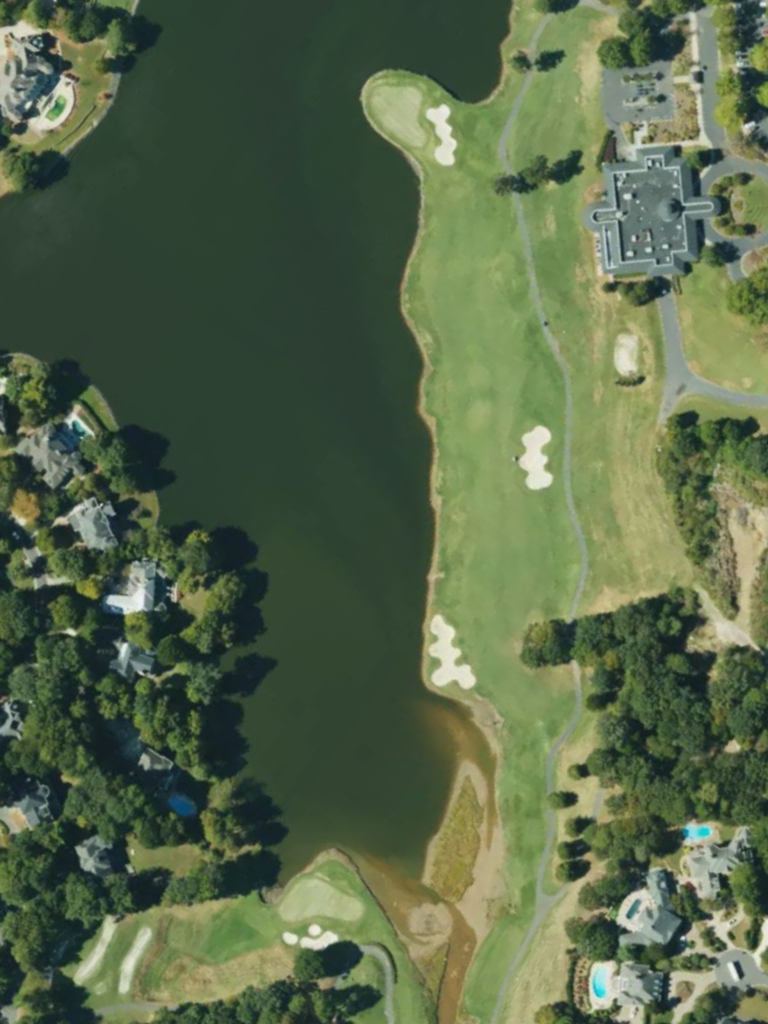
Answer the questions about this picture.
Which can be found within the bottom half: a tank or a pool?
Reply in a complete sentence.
It is a pool that can be seen within the bottom half.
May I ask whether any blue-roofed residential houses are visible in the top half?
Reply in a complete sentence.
No, no blue-roofed residential house can be made out in the top half.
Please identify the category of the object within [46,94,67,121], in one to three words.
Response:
swimming pool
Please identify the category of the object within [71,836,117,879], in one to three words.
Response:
house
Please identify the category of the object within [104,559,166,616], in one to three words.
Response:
house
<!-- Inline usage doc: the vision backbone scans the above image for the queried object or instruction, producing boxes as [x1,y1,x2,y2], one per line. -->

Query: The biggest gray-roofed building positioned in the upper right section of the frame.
[583,146,721,276]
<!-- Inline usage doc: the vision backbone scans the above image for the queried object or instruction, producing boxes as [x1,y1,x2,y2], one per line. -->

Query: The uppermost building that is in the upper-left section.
[1,39,59,126]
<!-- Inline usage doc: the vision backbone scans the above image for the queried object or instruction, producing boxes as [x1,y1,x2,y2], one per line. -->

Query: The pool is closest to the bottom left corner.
[167,794,197,818]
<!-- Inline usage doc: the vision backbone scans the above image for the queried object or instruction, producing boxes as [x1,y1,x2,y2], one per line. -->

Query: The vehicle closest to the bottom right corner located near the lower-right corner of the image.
[727,961,740,981]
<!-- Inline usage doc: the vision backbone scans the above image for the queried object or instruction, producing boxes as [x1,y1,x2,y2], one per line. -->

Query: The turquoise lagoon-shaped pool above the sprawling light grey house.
[682,824,712,841]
